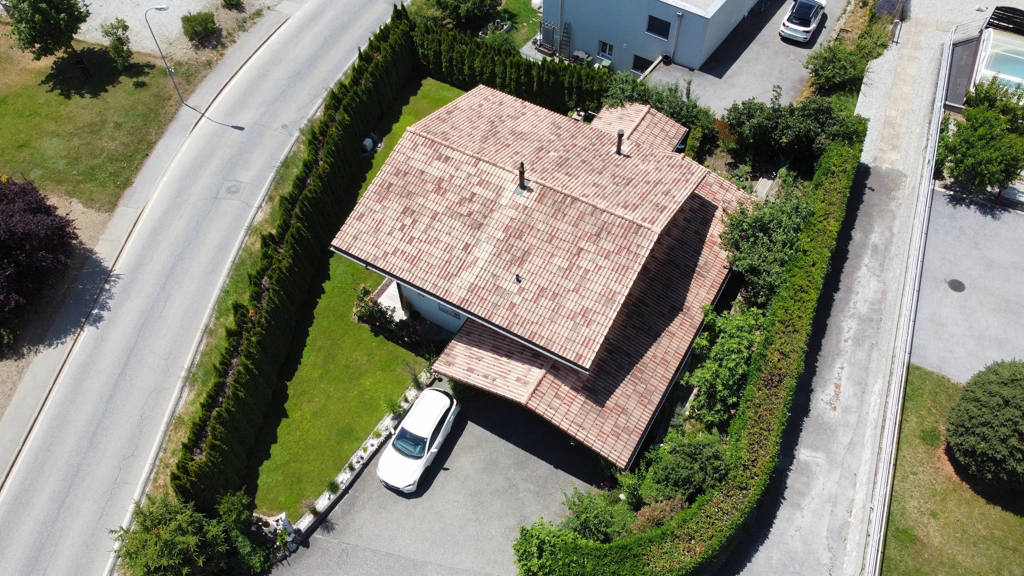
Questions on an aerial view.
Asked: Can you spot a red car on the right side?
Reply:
No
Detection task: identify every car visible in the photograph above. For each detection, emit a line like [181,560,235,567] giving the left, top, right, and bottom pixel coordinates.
[376,387,463,494]
[778,0,826,46]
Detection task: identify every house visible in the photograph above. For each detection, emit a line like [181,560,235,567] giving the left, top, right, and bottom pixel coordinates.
[543,0,754,79]
[329,84,763,472]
